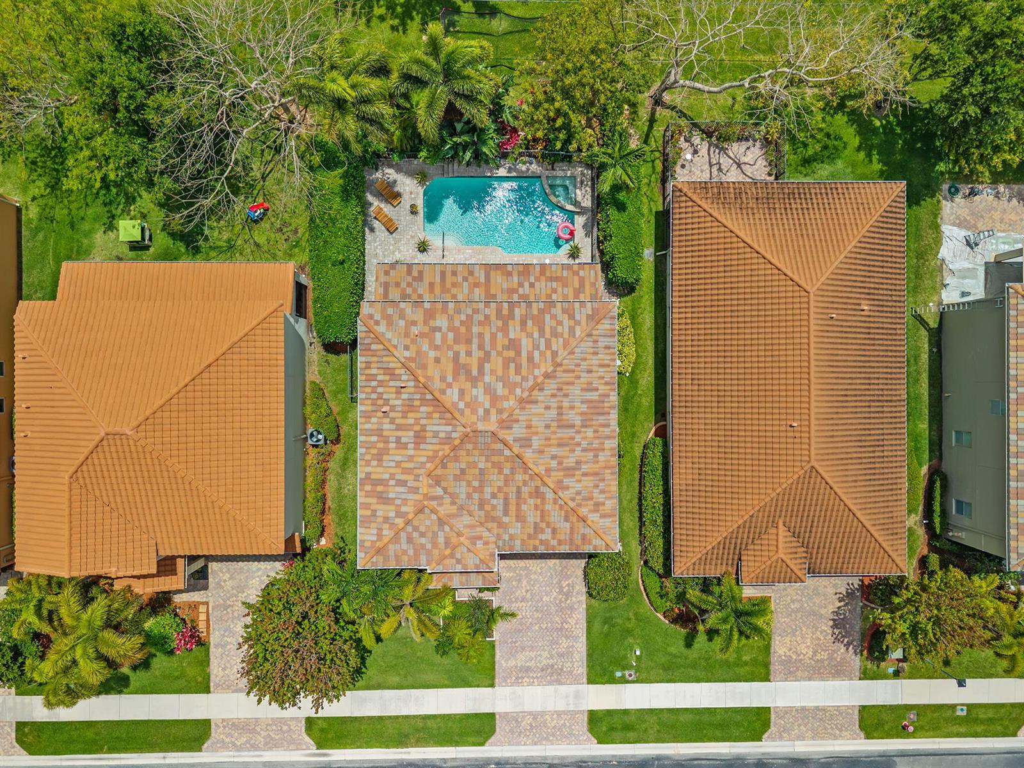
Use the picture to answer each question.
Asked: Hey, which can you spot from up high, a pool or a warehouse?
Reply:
pool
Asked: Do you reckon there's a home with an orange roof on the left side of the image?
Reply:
Yes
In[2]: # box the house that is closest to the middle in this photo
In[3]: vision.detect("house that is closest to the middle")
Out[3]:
[355,261,621,589]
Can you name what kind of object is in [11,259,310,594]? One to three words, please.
house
